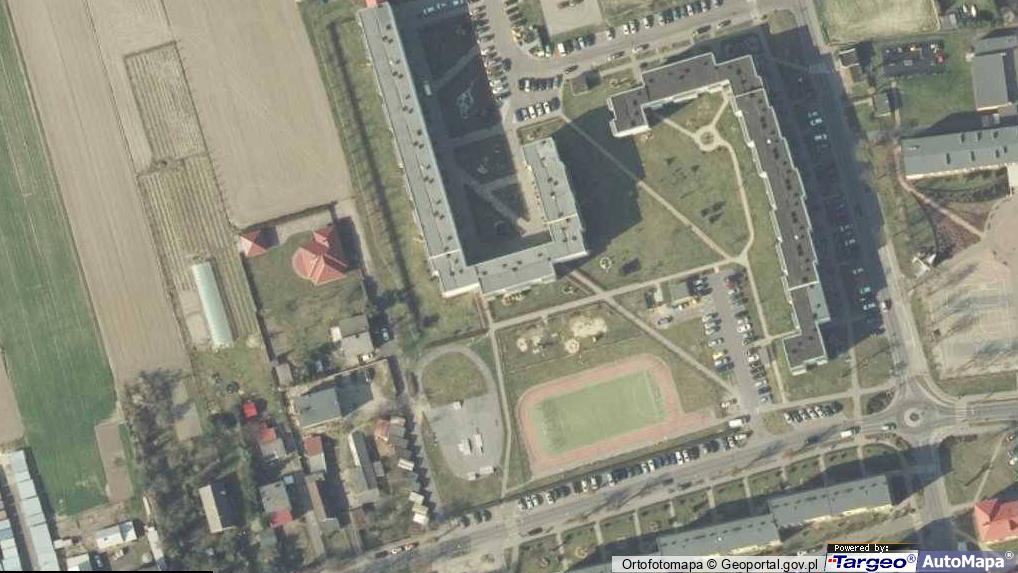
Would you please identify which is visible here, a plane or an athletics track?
athletics track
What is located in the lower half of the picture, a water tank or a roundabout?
roundabout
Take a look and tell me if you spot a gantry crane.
No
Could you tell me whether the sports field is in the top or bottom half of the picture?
bottom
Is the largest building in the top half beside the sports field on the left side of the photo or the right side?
right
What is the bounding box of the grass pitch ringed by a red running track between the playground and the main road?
[515,351,720,480]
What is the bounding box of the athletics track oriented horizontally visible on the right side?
[517,353,717,477]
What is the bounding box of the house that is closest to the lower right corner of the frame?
[974,497,1018,546]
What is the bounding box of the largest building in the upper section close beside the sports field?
[607,54,831,372]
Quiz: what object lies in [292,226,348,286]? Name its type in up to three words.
house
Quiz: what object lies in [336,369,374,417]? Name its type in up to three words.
building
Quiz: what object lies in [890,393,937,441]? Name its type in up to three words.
roundabout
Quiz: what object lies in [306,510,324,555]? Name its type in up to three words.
shed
